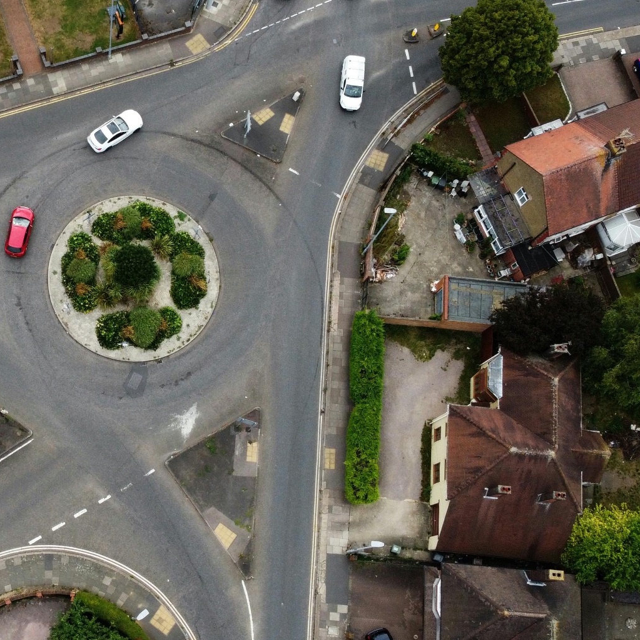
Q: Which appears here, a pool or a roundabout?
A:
roundabout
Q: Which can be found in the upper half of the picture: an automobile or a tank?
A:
automobile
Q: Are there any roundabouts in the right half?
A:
No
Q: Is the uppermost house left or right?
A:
right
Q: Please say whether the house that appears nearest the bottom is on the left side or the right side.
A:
right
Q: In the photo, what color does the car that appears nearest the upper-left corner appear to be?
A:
white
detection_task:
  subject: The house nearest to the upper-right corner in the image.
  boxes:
[458,98,640,282]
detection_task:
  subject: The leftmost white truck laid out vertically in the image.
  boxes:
[340,46,369,109]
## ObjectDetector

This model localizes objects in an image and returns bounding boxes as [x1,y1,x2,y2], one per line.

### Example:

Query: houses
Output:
[428,340,608,564]
[415,563,588,640]
[458,98,640,282]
